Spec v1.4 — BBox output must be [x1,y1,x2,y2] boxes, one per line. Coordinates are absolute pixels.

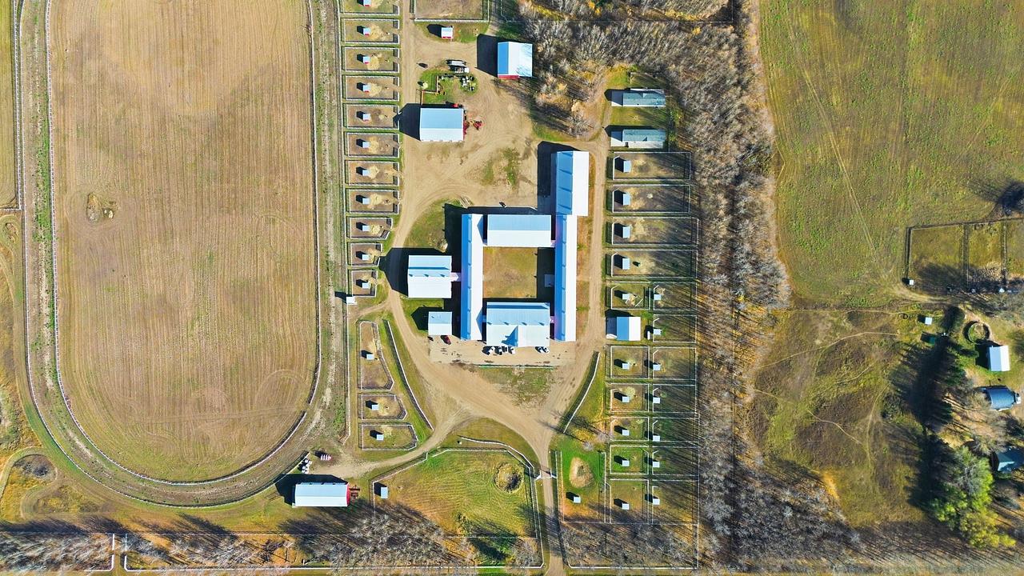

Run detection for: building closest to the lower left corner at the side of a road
[293,482,350,507]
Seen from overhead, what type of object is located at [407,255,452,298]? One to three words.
barn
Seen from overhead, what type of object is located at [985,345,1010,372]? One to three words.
building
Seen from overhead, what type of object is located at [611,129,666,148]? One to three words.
house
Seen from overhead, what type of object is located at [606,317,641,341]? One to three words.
shed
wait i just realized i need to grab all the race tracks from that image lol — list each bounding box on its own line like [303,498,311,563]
[21,0,349,509]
